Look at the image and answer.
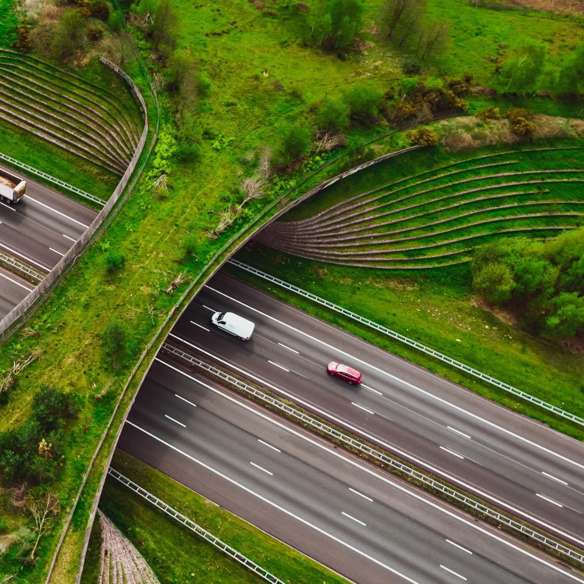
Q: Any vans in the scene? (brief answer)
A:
Yes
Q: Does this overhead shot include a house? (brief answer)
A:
No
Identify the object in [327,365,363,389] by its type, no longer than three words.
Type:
car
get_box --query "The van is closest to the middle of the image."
[215,316,260,344]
